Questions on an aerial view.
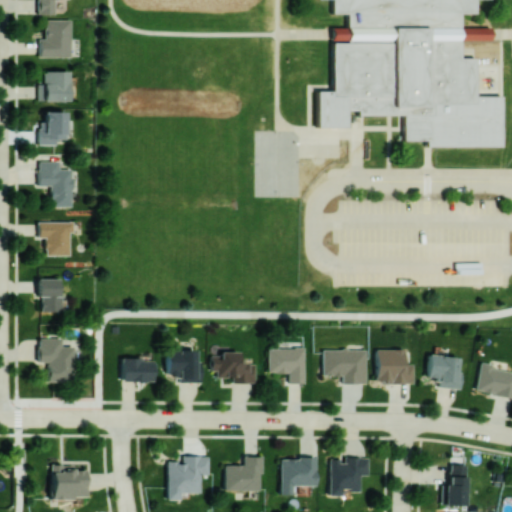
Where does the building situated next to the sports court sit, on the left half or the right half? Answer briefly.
right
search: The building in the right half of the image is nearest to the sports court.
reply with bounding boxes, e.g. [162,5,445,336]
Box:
[315,0,506,148]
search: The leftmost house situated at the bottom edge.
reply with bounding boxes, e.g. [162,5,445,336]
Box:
[51,465,93,500]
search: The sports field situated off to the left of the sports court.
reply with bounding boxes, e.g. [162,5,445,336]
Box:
[106,40,253,305]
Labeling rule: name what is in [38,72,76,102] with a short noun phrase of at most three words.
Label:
house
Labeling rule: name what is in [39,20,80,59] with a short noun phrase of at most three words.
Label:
house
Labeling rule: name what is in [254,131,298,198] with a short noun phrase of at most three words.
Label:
sports court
